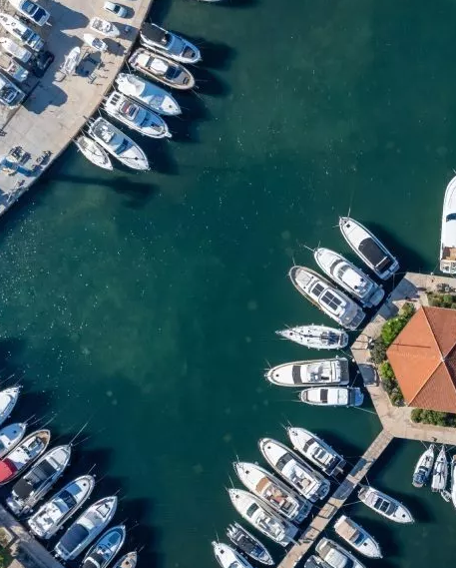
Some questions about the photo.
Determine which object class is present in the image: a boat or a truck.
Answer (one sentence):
Visible in the photo is a boat.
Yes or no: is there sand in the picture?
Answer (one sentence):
No, no sand is visible.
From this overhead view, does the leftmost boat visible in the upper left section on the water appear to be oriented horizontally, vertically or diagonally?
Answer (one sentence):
From this overhead view, the leftmost boat visible in the upper left section on the water appears to run diagonally.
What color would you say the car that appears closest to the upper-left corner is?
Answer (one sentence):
In this view, the car that appears closest to the upper-left corner is black.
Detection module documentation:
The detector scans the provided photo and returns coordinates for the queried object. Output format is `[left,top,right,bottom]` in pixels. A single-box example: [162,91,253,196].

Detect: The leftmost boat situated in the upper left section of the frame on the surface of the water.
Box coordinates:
[74,133,122,176]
